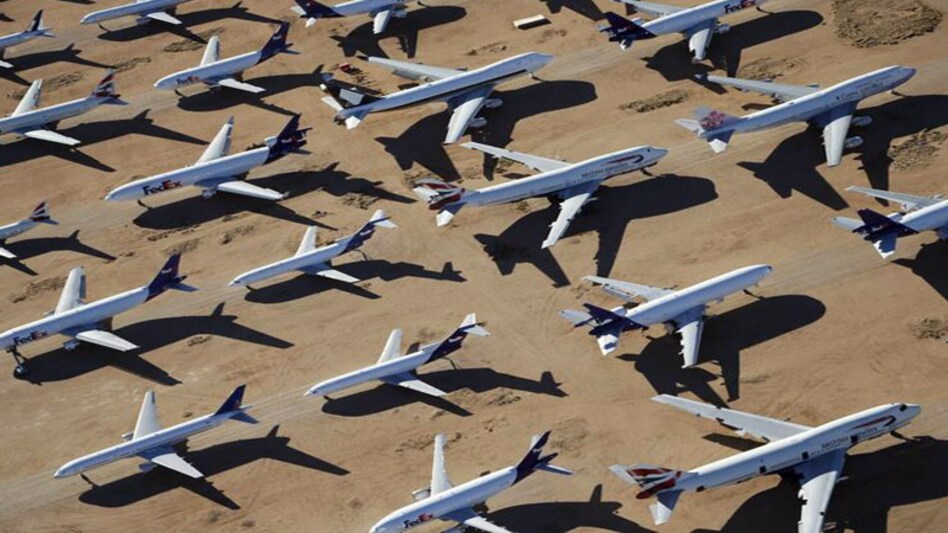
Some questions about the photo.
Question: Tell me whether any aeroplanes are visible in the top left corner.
Yes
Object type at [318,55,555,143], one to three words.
airplane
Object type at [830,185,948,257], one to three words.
airplane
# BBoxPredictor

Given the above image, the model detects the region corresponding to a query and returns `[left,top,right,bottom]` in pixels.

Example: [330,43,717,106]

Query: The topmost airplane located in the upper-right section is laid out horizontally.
[600,0,788,61]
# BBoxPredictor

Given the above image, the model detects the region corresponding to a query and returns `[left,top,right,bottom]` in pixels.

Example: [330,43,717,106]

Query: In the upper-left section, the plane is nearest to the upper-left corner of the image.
[0,11,56,51]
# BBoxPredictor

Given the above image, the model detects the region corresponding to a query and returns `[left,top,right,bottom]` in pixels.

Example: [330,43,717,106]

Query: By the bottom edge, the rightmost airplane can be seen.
[607,396,918,533]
